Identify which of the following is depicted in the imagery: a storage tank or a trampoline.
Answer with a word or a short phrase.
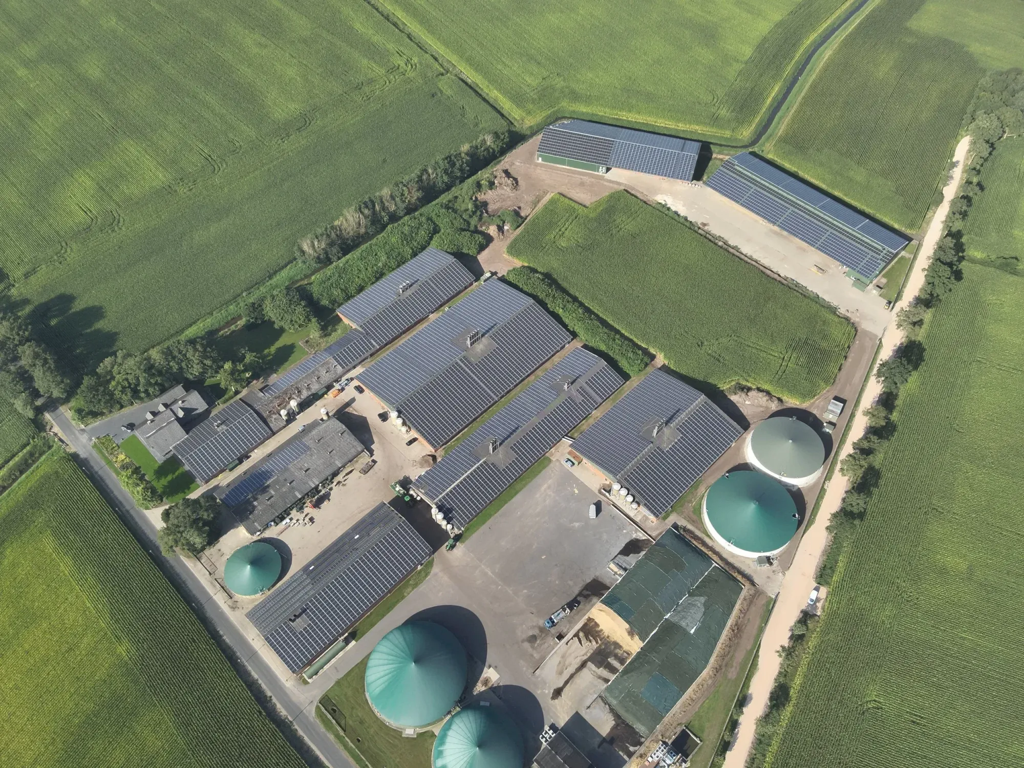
storage tank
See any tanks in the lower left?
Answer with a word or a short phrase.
Yes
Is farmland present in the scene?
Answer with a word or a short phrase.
Yes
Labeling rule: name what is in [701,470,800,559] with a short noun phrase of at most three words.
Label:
storage tank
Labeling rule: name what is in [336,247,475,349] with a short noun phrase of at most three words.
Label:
barn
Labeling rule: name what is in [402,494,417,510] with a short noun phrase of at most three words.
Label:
work vehicle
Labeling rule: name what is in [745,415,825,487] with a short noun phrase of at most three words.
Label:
storage tank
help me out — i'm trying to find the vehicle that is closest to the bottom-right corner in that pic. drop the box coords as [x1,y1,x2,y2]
[807,588,819,604]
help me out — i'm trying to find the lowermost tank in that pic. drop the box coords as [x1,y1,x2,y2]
[430,704,528,768]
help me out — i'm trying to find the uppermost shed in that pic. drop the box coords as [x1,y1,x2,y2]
[536,120,700,187]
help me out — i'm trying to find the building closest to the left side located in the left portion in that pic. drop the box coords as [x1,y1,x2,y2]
[136,385,210,456]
